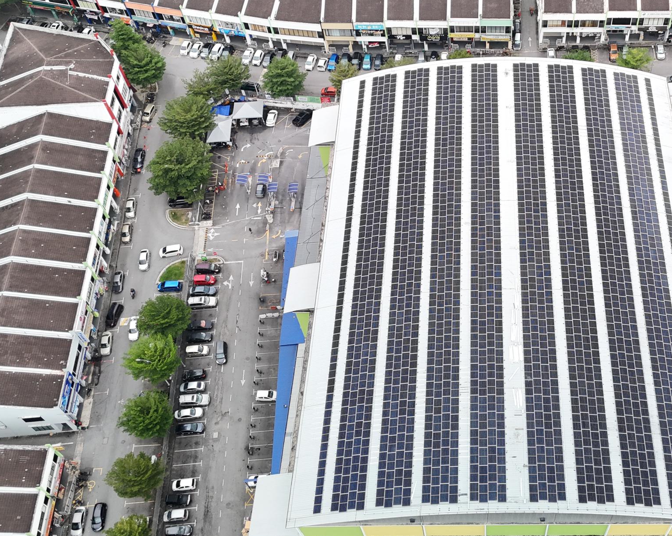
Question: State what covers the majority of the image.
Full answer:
The bulk of the photo consists of buildings.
